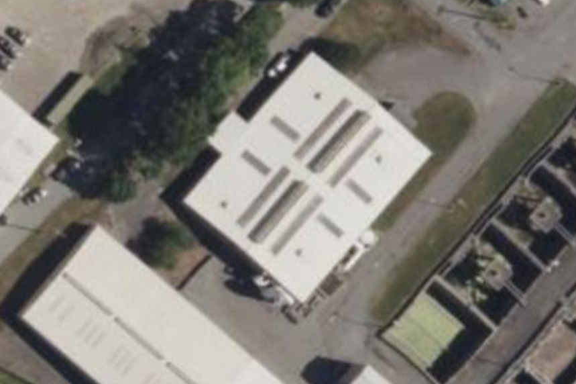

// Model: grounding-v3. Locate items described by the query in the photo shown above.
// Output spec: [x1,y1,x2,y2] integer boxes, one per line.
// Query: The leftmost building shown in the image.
[0,88,59,209]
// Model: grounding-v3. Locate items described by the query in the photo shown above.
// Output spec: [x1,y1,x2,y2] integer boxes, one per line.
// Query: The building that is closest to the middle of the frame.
[180,52,431,304]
